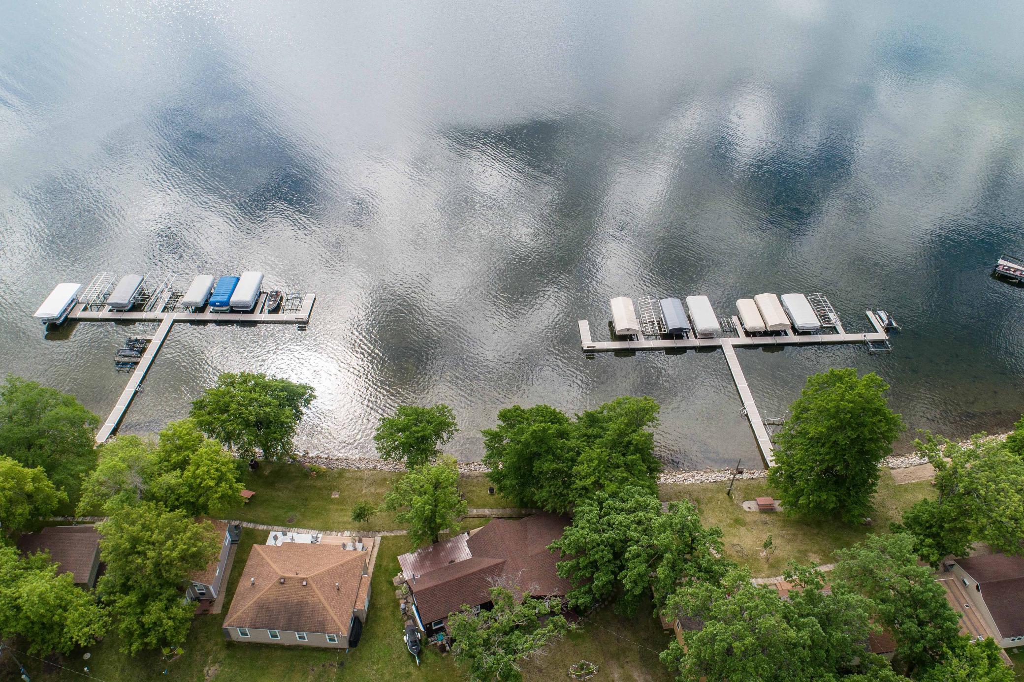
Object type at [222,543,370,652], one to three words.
house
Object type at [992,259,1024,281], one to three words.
boat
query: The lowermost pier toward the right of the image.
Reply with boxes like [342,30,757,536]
[578,308,889,469]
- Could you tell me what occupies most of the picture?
water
